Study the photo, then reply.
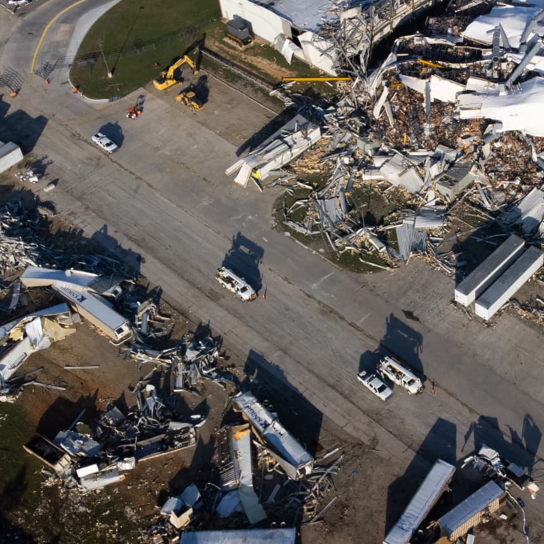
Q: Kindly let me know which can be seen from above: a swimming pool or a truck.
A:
truck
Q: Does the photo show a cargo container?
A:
Yes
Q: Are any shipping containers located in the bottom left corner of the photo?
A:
Yes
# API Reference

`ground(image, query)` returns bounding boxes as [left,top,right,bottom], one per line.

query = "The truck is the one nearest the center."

[215,258,255,297]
